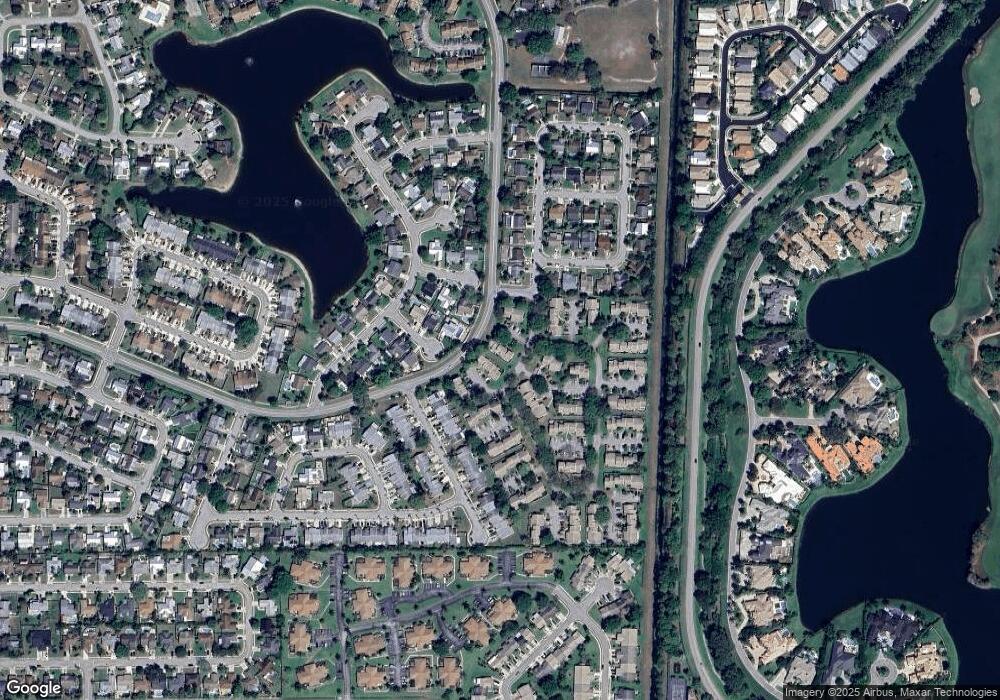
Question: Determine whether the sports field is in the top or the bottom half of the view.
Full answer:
The sports field sits in the top half of the picture.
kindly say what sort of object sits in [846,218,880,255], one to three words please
house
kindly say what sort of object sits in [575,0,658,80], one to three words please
sports field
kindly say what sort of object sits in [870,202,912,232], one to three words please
house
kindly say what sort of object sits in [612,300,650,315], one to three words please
building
